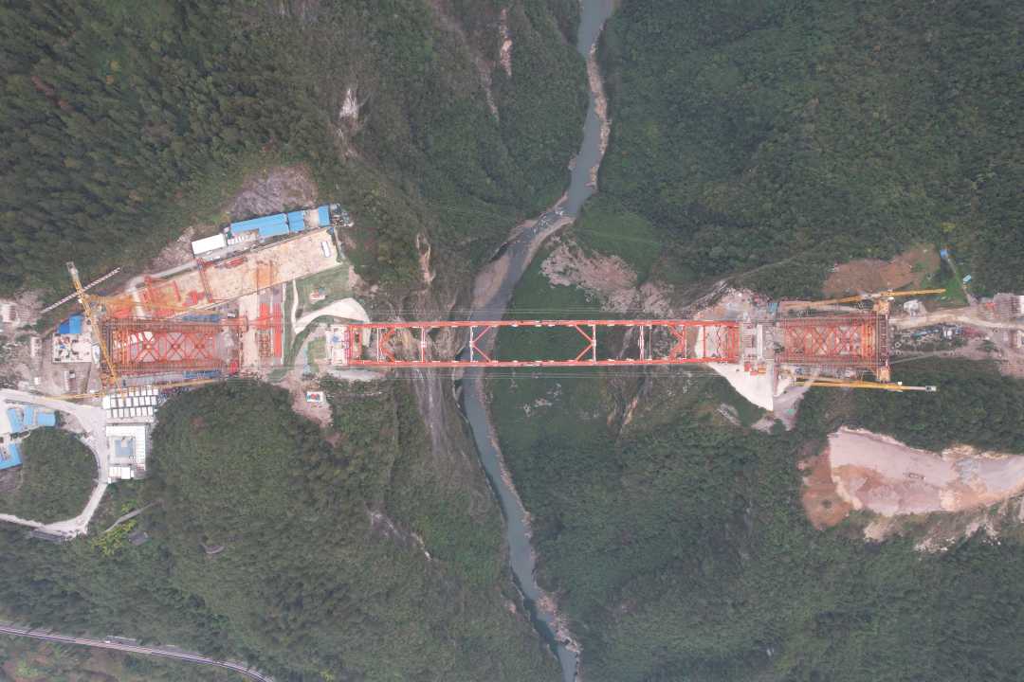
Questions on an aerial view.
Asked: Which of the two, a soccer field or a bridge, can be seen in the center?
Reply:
bridge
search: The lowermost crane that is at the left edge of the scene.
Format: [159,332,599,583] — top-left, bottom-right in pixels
[45,371,230,402]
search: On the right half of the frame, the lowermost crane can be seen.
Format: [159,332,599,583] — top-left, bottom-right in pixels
[782,370,937,393]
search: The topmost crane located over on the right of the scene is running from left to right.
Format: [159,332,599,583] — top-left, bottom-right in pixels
[776,288,947,313]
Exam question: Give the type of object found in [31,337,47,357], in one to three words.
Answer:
house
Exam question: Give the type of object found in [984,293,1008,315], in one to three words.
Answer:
building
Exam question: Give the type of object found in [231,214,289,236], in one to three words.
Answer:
shed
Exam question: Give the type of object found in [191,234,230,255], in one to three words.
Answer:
shed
